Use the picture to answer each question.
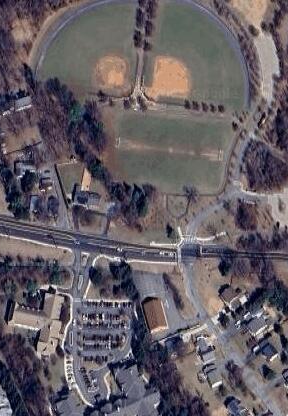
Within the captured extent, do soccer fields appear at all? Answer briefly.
Yes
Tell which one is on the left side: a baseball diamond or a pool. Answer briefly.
baseball diamond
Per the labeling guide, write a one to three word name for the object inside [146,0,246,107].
baseball field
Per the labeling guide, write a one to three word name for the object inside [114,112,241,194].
soccer field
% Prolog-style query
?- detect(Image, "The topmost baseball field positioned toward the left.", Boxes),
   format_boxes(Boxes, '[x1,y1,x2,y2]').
[38,0,137,99]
